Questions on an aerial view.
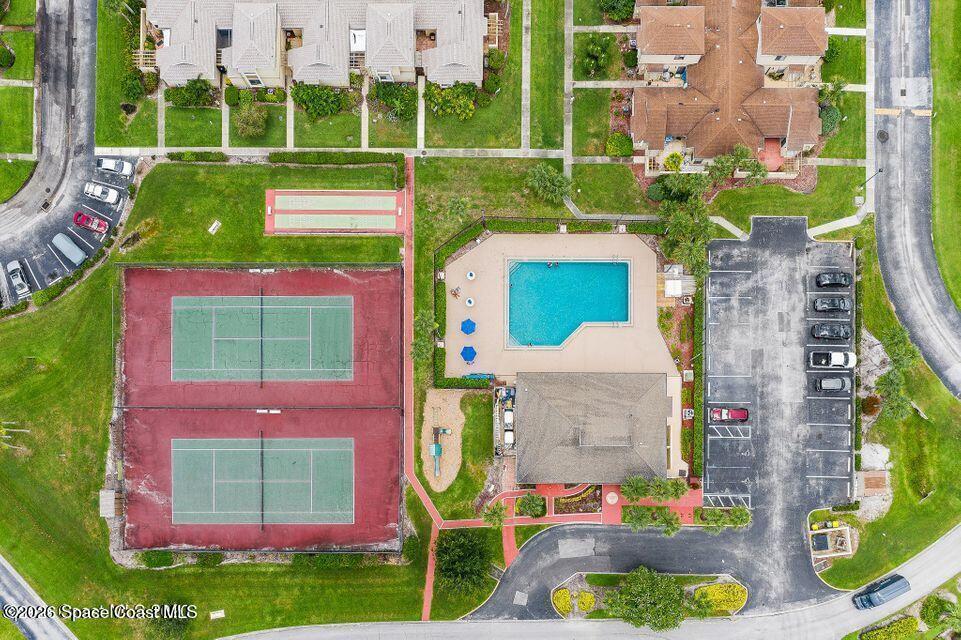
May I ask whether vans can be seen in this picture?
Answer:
Yes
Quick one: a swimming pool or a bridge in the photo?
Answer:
swimming pool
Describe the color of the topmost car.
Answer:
white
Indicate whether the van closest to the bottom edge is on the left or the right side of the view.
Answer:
right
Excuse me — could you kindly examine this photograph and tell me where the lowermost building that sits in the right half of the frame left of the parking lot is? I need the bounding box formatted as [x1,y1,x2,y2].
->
[516,372,673,485]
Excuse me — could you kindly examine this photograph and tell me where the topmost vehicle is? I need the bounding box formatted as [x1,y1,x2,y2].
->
[97,158,136,178]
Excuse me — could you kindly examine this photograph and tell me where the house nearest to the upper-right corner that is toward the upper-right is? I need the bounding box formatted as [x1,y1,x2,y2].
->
[631,0,825,182]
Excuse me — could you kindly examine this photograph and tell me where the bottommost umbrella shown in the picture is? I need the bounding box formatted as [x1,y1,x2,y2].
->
[461,346,478,360]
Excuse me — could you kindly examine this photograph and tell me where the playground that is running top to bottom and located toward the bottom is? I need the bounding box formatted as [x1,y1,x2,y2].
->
[429,407,452,477]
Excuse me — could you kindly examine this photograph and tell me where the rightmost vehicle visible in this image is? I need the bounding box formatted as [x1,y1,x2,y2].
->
[854,572,907,606]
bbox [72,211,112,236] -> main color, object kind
red car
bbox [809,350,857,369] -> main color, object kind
white vehicle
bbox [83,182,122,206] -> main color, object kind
white car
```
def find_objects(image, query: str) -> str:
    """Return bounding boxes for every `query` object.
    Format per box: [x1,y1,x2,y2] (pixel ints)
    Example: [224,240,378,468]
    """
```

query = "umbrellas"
[461,318,475,334]
[461,346,478,360]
